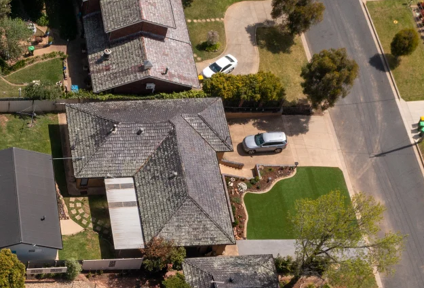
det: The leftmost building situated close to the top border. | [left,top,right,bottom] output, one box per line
[75,0,201,101]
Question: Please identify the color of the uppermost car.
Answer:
white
